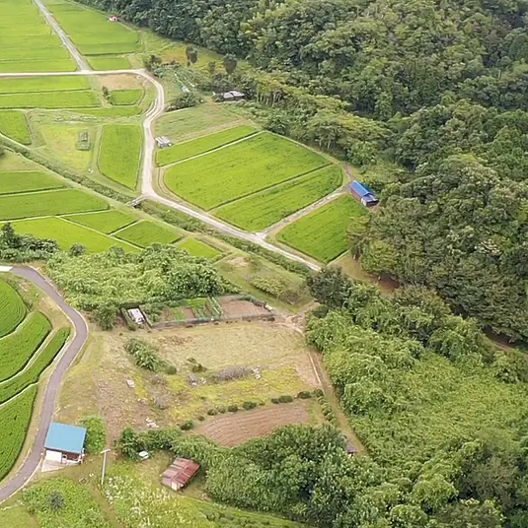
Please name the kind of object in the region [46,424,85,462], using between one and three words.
building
